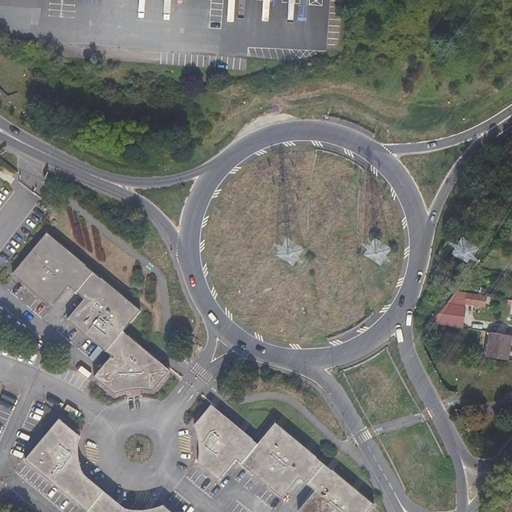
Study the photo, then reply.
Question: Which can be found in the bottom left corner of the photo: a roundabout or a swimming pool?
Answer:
roundabout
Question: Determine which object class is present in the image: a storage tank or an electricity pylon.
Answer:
electricity pylon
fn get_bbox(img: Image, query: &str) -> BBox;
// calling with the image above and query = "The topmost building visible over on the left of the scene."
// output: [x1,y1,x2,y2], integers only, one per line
[12,233,173,397]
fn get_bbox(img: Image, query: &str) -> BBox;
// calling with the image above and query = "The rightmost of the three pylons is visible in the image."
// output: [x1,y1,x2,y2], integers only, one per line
[452,236,484,264]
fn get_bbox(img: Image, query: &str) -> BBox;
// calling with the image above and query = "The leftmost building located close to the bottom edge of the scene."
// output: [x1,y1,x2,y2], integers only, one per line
[26,419,171,512]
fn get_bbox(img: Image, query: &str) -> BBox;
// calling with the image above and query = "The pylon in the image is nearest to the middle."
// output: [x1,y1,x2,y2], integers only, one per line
[274,238,306,266]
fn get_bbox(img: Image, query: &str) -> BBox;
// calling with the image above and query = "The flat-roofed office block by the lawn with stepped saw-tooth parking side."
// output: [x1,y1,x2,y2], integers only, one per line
[194,404,380,512]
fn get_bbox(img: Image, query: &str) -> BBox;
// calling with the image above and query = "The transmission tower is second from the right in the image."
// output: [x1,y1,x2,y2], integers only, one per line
[362,240,394,267]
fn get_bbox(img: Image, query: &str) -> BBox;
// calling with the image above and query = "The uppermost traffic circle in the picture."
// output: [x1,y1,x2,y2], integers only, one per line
[177,118,432,372]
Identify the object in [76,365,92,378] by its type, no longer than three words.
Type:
vehicle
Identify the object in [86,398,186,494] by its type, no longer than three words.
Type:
roundabout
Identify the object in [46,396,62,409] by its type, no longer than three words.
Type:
vehicle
